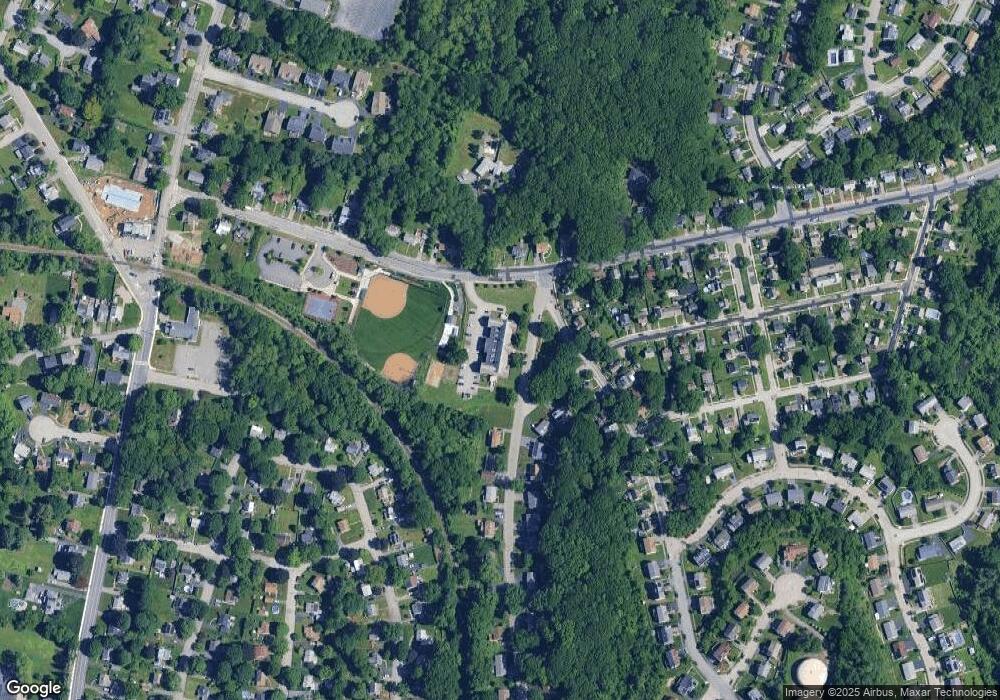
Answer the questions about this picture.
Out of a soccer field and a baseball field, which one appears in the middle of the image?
baseball field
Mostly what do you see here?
trees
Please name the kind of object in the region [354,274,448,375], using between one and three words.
baseball field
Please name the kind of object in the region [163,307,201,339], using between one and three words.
building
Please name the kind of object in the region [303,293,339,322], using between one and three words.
basketball court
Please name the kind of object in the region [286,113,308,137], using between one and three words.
house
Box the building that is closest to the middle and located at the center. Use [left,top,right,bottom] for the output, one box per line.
[479,315,508,376]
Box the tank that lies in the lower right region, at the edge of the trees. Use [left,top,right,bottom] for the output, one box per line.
[799,658,827,687]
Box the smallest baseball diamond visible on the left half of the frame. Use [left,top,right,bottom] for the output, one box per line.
[383,353,417,383]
